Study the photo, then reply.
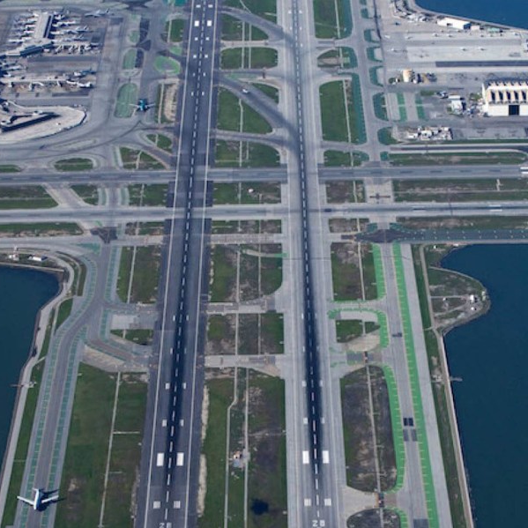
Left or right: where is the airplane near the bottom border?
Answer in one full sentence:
You can find the airplane near the bottom border on the left side of the picture.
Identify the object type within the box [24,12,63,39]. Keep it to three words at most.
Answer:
building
